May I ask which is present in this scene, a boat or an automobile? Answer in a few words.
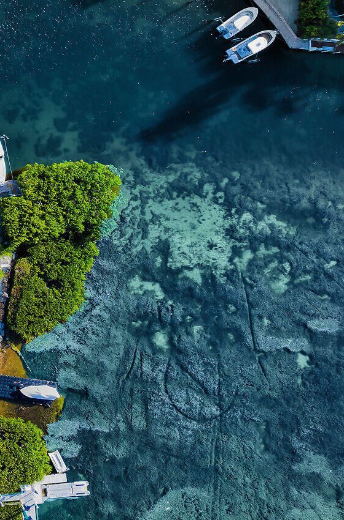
boat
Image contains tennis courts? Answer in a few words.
No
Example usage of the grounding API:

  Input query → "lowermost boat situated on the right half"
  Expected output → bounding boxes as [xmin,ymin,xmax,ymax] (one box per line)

[217,30,276,64]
